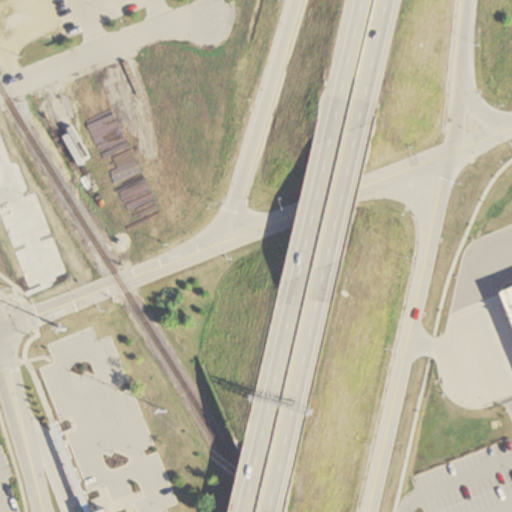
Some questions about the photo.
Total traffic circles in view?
zero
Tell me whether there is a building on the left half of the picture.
Yes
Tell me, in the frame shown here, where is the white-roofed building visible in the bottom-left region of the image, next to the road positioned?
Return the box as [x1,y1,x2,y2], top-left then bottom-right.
[50,418,86,502]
